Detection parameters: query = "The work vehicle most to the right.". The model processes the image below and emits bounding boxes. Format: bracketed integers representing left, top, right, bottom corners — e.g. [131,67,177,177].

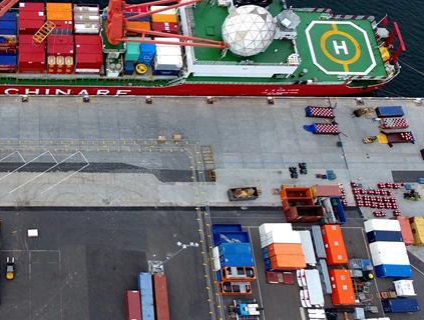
[402,188,424,200]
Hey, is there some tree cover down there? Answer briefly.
No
